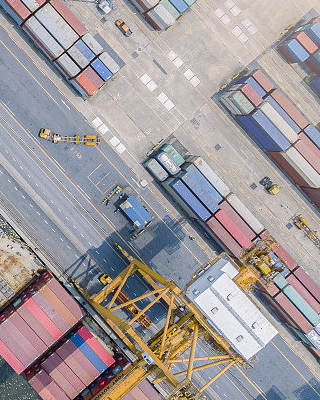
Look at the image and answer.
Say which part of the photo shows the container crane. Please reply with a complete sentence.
The container crane appears toward the bottom of the photo.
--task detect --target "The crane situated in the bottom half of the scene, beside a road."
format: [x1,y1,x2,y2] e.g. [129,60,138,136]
[73,238,298,400]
